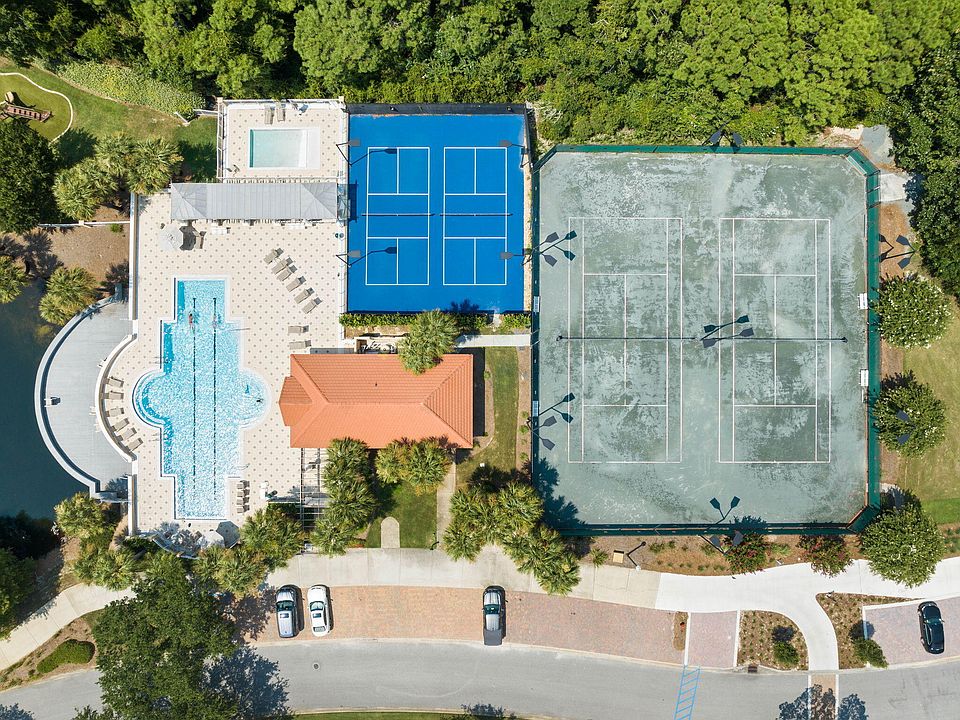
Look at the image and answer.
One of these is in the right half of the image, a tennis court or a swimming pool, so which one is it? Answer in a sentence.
What appears in the right half of the image is a tennis court.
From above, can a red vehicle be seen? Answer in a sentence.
No, I can see no red vehicle in this picture.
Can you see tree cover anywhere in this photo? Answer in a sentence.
Yes, tree cover shows up in the scene.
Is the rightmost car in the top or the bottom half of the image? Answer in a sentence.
It is in the bottom half that the rightmost car appears.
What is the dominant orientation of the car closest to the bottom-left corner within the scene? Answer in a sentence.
I'd say the car closest to the bottom-left corner is aligned vertically in the picture.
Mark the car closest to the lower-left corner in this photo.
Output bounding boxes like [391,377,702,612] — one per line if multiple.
[276,586,302,638]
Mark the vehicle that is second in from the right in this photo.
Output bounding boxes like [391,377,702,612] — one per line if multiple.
[482,586,505,646]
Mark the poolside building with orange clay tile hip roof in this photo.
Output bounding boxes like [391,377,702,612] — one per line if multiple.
[279,353,473,449]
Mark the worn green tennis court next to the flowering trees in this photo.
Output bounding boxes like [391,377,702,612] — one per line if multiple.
[701,155,866,528]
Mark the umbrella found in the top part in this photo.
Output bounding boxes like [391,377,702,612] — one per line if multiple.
[160,228,186,253]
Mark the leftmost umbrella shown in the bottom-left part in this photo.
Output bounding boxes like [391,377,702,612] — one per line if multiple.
[205,526,226,547]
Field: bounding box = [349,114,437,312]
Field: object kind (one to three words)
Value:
sports court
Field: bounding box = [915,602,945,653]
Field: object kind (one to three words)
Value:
car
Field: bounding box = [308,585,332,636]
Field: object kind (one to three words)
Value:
car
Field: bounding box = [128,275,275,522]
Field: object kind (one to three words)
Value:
swimming pool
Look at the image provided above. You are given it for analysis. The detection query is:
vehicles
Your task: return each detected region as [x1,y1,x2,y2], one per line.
[482,586,505,646]
[915,602,945,653]
[276,586,302,638]
[308,585,332,636]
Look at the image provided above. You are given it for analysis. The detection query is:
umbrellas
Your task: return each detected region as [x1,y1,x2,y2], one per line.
[160,228,186,253]
[205,526,226,547]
